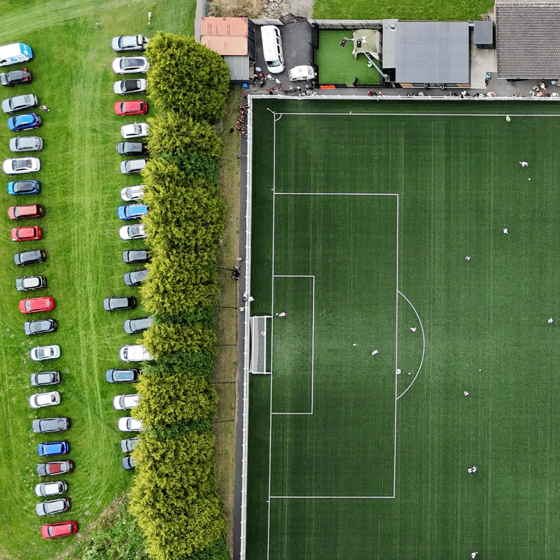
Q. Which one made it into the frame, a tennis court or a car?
car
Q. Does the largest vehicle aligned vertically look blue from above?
No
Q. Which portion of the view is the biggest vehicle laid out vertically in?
top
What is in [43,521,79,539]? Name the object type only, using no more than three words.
car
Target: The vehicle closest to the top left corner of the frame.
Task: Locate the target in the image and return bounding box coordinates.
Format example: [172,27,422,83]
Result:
[0,43,37,65]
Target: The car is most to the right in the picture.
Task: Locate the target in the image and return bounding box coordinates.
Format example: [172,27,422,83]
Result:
[288,66,315,83]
